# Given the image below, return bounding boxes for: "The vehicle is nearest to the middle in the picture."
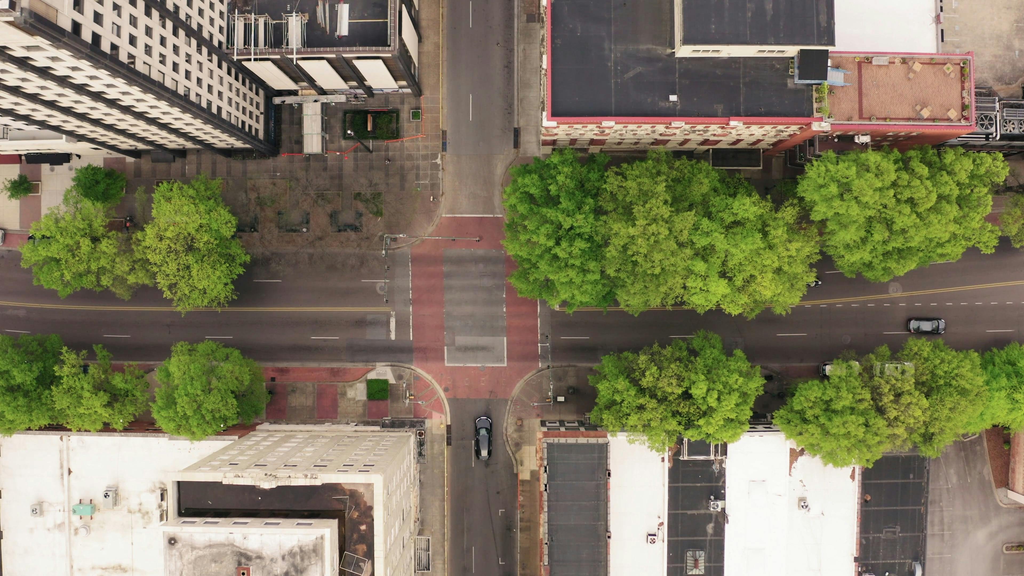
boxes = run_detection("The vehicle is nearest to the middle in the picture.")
[474,417,493,460]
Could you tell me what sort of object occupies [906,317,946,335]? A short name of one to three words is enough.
car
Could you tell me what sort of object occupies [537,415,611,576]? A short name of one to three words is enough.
building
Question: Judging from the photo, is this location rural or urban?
urban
